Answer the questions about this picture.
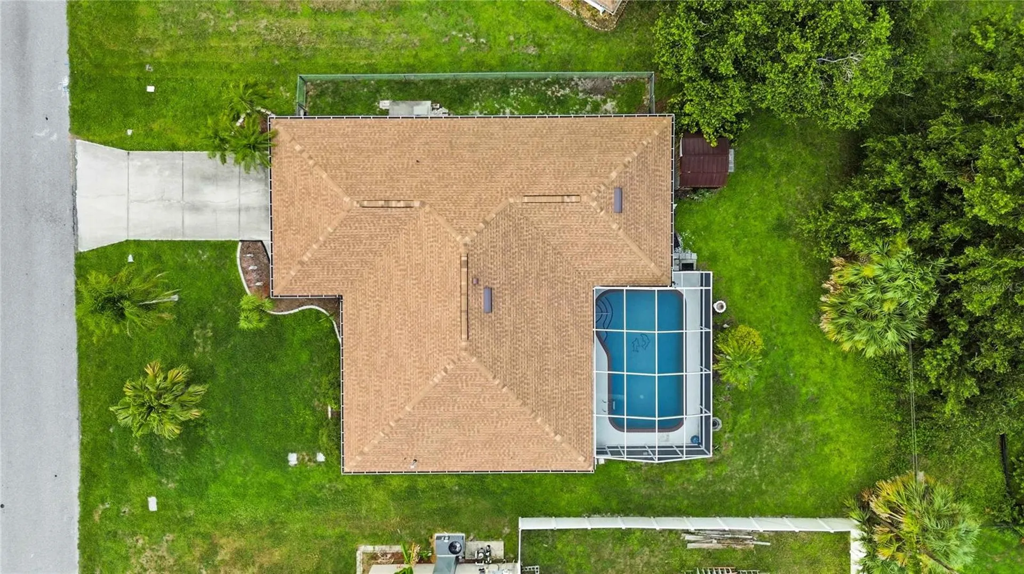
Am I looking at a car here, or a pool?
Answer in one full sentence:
Visible in the photo is a pool.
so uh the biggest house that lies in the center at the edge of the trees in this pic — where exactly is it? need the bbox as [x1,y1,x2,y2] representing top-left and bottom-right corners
[270,116,673,472]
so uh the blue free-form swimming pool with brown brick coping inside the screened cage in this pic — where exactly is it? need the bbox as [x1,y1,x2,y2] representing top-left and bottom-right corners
[595,289,684,433]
